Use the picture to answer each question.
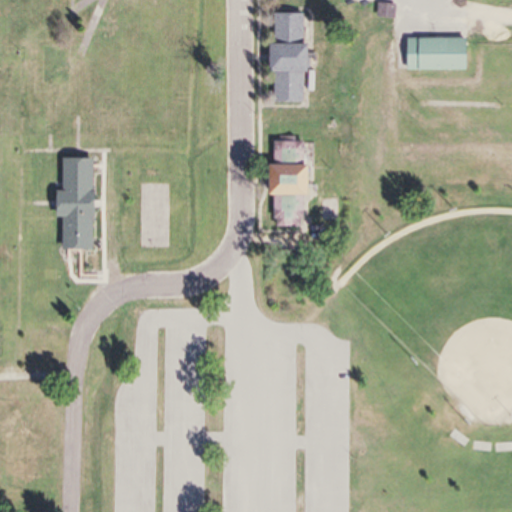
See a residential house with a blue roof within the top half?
No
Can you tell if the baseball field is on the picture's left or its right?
right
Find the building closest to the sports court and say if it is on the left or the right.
left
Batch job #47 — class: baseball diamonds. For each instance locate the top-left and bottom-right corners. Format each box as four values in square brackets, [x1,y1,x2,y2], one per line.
[331,206,512,435]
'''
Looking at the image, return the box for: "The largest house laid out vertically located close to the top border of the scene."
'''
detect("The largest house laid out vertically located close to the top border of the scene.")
[270,12,316,102]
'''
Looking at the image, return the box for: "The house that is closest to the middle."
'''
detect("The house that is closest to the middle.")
[269,134,308,226]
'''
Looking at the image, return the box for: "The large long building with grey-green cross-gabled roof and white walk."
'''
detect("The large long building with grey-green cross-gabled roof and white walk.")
[56,157,95,248]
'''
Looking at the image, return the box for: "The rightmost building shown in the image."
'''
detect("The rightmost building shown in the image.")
[407,37,467,70]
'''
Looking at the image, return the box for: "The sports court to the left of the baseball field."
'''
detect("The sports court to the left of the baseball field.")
[141,182,169,246]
